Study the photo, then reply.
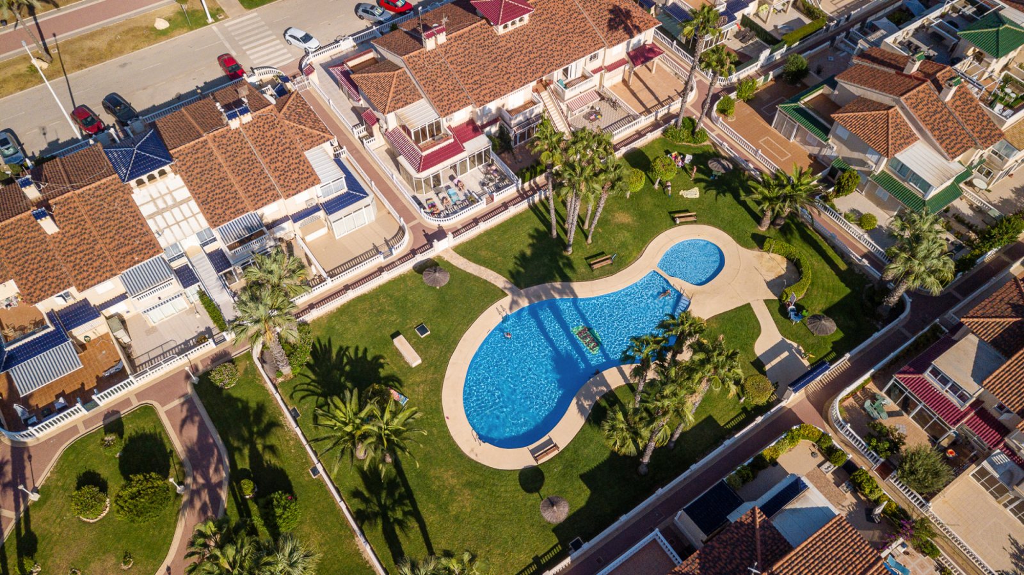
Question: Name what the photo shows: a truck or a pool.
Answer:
pool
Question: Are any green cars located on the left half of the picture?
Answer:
No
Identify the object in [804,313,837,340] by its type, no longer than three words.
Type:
umbrella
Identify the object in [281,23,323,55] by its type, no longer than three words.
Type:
car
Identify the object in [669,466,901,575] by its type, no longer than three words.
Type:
house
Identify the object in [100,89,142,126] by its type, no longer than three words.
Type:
car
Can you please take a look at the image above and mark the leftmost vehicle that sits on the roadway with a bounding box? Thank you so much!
[0,128,29,168]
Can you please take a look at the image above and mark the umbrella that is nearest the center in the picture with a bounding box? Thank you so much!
[421,265,451,292]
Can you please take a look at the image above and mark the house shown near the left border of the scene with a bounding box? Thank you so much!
[0,74,374,403]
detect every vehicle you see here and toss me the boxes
[351,0,394,27]
[281,23,323,55]
[0,128,29,168]
[100,89,142,126]
[212,49,251,84]
[375,0,418,17]
[67,101,110,138]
